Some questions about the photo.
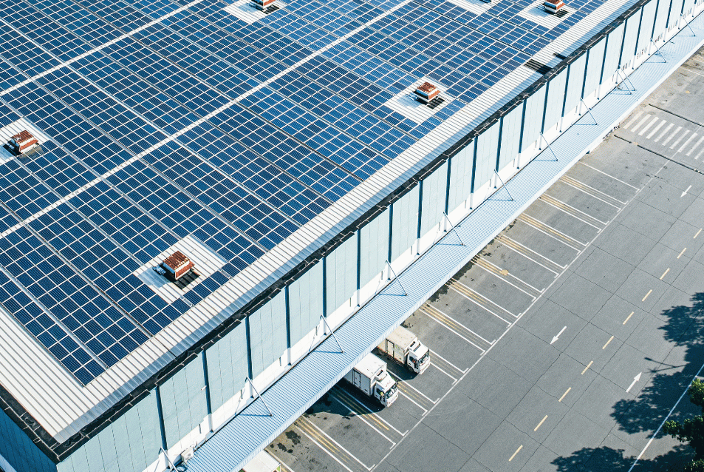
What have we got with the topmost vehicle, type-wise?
truck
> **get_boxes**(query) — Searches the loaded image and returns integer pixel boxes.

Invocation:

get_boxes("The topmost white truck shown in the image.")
[374,319,435,377]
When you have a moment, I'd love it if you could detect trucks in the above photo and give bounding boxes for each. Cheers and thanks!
[374,319,435,377]
[233,445,280,472]
[342,350,403,409]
